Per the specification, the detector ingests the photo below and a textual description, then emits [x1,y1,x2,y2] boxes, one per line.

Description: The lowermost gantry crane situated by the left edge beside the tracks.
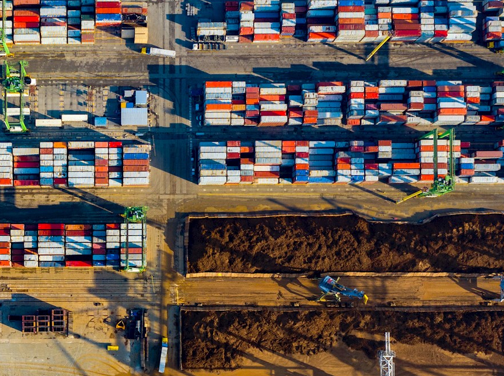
[1,60,33,128]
